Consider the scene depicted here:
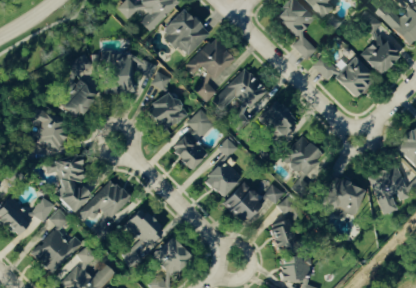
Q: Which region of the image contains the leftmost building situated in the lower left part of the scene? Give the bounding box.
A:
[0,198,54,236]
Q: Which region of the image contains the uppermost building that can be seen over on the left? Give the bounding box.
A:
[118,0,178,31]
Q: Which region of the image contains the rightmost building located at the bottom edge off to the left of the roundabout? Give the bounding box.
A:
[150,242,186,288]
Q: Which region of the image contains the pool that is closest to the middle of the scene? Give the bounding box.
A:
[200,127,224,150]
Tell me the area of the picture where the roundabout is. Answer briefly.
bottom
